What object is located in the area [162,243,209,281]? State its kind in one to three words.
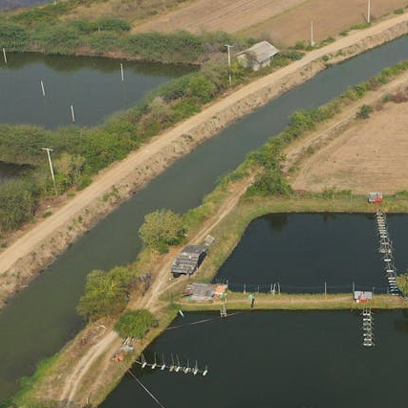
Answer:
shed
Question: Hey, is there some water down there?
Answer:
Yes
